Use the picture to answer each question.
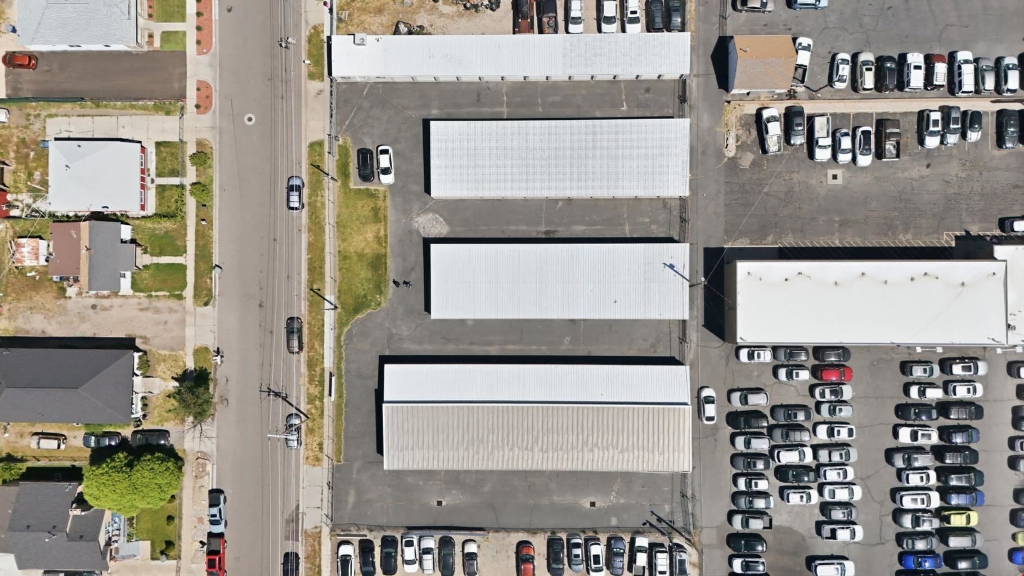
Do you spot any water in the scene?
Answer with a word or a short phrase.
No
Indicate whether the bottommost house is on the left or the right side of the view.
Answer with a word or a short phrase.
left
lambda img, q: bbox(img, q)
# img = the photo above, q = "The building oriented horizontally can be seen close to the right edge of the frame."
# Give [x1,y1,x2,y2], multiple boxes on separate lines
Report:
[724,261,1007,345]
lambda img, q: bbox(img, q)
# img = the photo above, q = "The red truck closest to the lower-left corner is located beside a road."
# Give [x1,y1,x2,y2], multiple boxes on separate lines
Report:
[204,532,226,576]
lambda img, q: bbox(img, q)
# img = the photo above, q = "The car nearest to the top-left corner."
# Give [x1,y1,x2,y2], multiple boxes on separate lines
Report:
[2,51,39,71]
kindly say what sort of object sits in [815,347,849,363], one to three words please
car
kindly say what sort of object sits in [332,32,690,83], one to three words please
building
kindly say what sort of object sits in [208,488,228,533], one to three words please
vehicle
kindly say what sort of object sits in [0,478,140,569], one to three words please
house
